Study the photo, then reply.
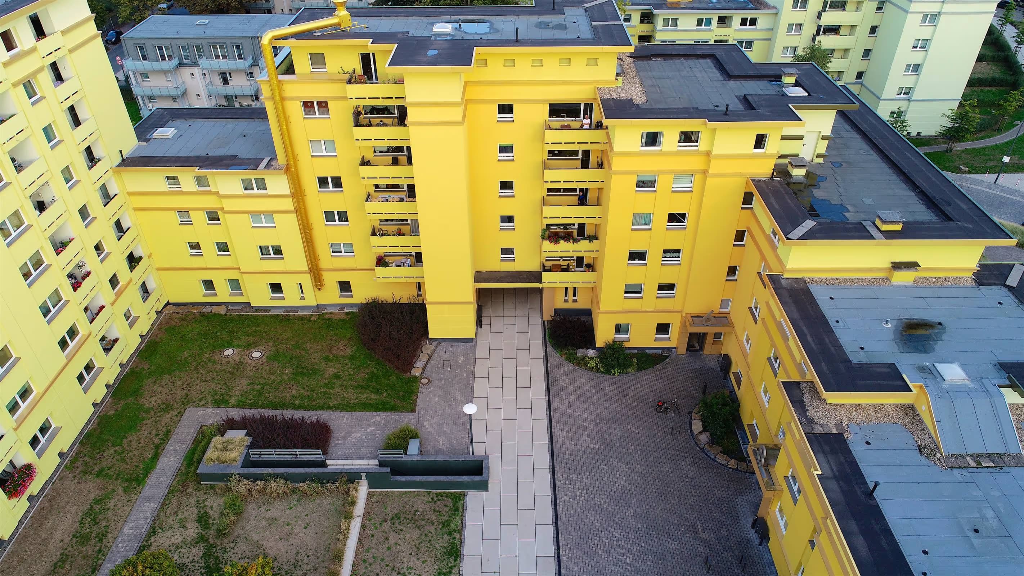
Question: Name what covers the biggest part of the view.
buildings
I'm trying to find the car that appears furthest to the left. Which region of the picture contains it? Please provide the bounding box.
[104,27,121,40]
